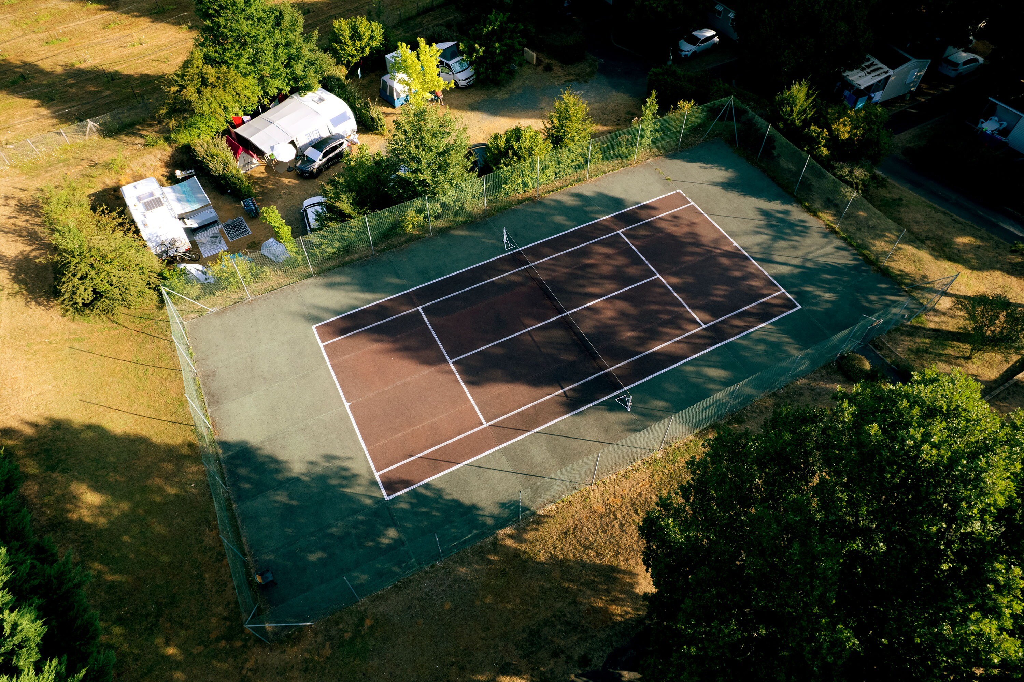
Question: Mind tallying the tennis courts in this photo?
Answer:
1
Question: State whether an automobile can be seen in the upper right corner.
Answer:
Yes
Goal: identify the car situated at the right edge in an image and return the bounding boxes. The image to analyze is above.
[929,48,992,78]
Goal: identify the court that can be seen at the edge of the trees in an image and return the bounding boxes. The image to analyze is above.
[185,140,932,643]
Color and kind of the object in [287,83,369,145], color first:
white camper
